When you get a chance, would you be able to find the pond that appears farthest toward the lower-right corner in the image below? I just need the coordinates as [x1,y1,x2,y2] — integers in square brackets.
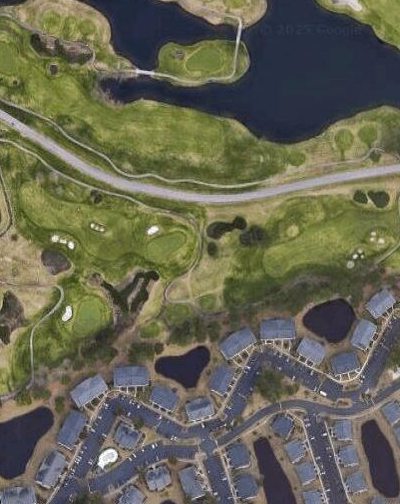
[363,419,400,498]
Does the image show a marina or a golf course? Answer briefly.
golf course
